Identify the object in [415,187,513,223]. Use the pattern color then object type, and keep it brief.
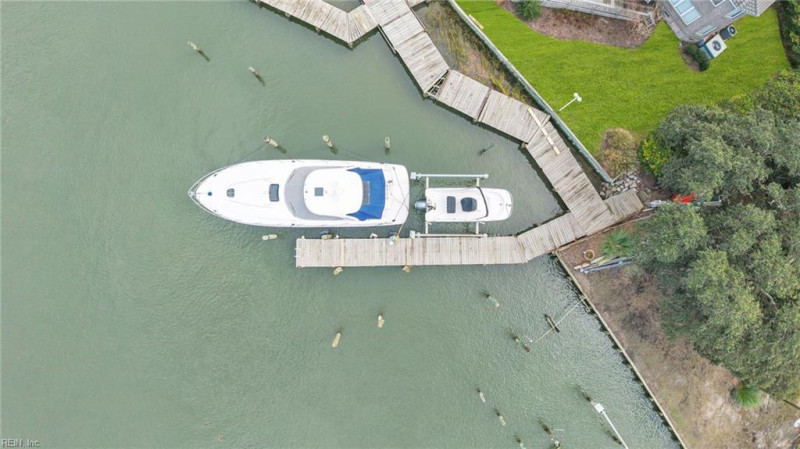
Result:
white boat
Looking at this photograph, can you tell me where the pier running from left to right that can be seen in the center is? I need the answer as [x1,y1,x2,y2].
[295,212,587,268]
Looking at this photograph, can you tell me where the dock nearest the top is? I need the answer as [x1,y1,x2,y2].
[254,0,378,52]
